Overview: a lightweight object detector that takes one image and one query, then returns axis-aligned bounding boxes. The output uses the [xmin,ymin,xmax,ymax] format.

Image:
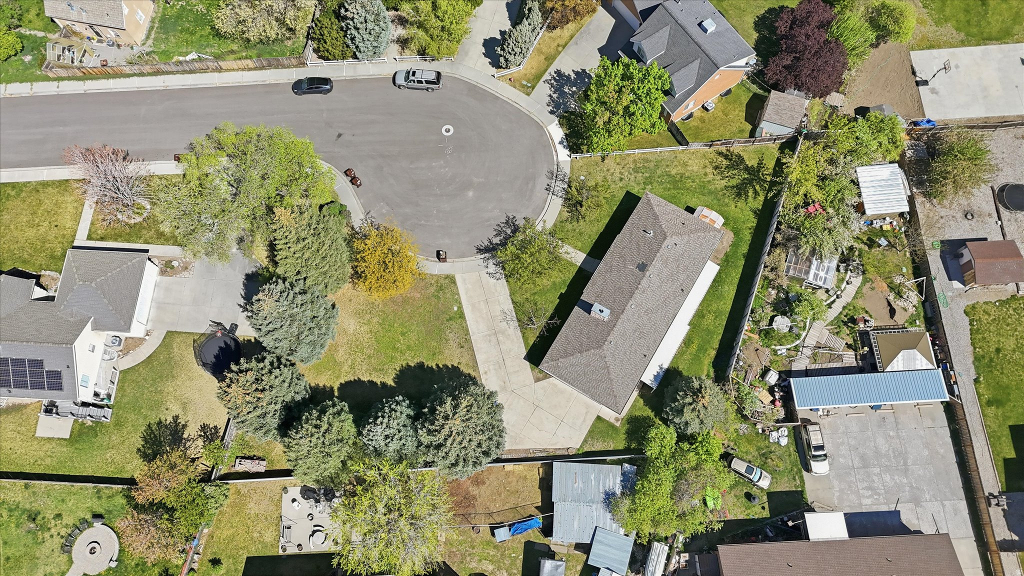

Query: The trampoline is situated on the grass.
[191,327,248,380]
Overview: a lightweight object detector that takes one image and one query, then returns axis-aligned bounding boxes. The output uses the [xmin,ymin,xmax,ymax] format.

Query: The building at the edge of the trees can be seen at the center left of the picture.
[0,246,157,400]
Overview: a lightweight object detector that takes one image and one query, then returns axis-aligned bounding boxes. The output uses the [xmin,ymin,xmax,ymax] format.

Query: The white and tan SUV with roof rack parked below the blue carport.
[800,423,831,476]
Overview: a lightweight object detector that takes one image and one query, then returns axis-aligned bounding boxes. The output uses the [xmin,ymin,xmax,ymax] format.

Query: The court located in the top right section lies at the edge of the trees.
[910,43,1024,120]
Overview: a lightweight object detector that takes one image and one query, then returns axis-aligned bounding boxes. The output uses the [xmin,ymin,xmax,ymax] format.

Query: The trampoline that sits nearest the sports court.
[999,176,1024,219]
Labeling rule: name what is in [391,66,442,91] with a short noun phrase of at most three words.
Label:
car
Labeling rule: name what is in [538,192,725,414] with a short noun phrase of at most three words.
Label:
house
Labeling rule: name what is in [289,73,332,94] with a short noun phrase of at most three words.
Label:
car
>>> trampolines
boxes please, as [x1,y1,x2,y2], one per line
[191,327,248,380]
[999,176,1024,219]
